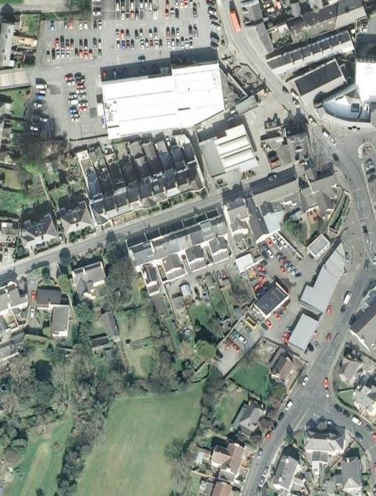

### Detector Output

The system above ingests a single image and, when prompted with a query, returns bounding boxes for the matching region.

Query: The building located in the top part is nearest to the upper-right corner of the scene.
[327,0,368,36]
